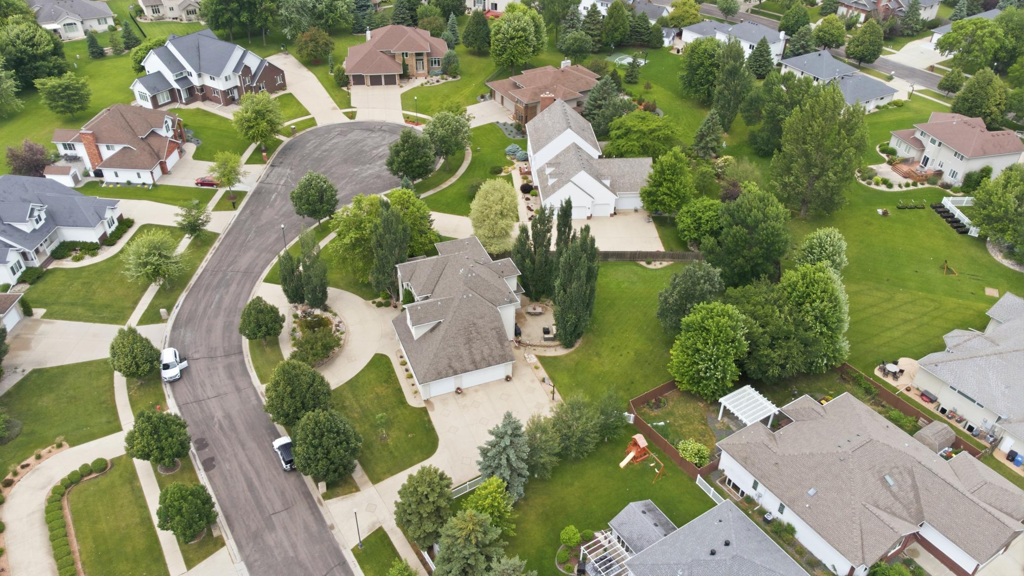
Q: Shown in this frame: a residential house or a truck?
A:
residential house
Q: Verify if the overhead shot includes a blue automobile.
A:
No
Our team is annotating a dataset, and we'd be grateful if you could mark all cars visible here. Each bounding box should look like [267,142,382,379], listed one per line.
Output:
[268,433,300,471]
[158,342,190,380]
[191,174,223,189]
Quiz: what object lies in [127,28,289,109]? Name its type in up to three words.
house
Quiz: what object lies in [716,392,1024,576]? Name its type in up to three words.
house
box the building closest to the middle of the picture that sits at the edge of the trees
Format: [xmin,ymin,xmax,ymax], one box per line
[391,236,533,399]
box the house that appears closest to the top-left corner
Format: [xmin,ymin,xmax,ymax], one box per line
[33,0,118,39]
